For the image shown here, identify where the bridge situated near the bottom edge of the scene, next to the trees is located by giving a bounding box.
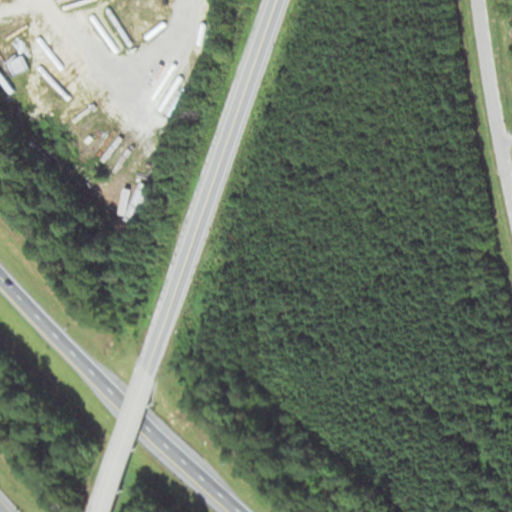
[84,363,161,512]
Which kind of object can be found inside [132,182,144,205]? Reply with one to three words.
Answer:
vehicle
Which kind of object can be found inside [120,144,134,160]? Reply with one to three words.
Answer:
vehicle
